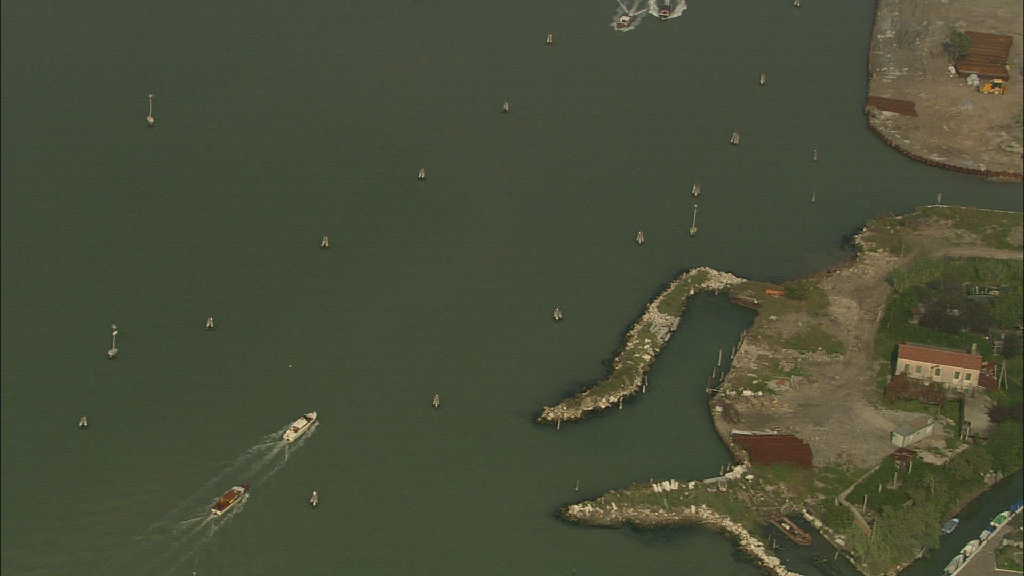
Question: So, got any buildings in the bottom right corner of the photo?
Yes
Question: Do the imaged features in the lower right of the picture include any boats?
Yes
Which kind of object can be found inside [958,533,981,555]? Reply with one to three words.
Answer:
boat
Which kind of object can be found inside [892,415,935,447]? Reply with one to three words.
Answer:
building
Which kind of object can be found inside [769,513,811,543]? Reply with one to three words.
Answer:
ship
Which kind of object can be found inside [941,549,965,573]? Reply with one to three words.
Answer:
boat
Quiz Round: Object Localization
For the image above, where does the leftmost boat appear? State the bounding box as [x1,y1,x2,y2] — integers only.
[210,484,247,516]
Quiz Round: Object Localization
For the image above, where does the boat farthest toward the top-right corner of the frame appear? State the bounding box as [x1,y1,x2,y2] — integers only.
[659,2,671,21]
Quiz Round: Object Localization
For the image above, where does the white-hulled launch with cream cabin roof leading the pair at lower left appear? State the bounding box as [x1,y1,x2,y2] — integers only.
[281,411,317,443]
